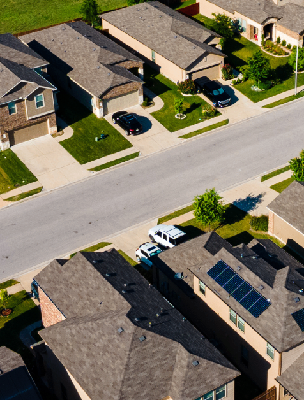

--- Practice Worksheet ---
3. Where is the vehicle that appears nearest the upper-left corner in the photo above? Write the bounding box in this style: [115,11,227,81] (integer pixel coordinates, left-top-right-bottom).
[109,109,142,133]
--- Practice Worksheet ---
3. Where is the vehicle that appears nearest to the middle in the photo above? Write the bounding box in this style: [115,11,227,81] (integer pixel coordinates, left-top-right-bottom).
[148,223,182,245]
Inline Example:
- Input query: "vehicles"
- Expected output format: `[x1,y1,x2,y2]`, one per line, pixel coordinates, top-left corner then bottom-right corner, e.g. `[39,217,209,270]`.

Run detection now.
[148,223,182,245]
[136,245,157,278]
[34,284,43,302]
[109,109,142,133]
[197,76,236,104]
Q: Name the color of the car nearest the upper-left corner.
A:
black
